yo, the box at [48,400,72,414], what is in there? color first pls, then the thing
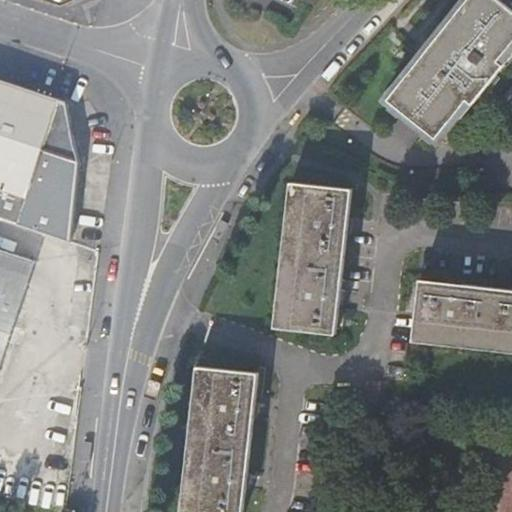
white vehicle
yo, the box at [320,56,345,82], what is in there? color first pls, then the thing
white truck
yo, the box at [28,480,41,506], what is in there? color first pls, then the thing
white vehicle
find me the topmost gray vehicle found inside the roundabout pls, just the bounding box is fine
[215,46,233,68]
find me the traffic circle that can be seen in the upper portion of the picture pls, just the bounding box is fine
[134,42,274,182]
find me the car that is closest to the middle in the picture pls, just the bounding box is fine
[236,180,252,198]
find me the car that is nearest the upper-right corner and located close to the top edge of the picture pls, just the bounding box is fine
[364,16,382,35]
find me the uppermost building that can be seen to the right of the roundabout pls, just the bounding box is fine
[379,0,512,146]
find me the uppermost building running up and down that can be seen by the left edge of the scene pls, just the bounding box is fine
[0,78,80,242]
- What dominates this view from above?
paved ground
